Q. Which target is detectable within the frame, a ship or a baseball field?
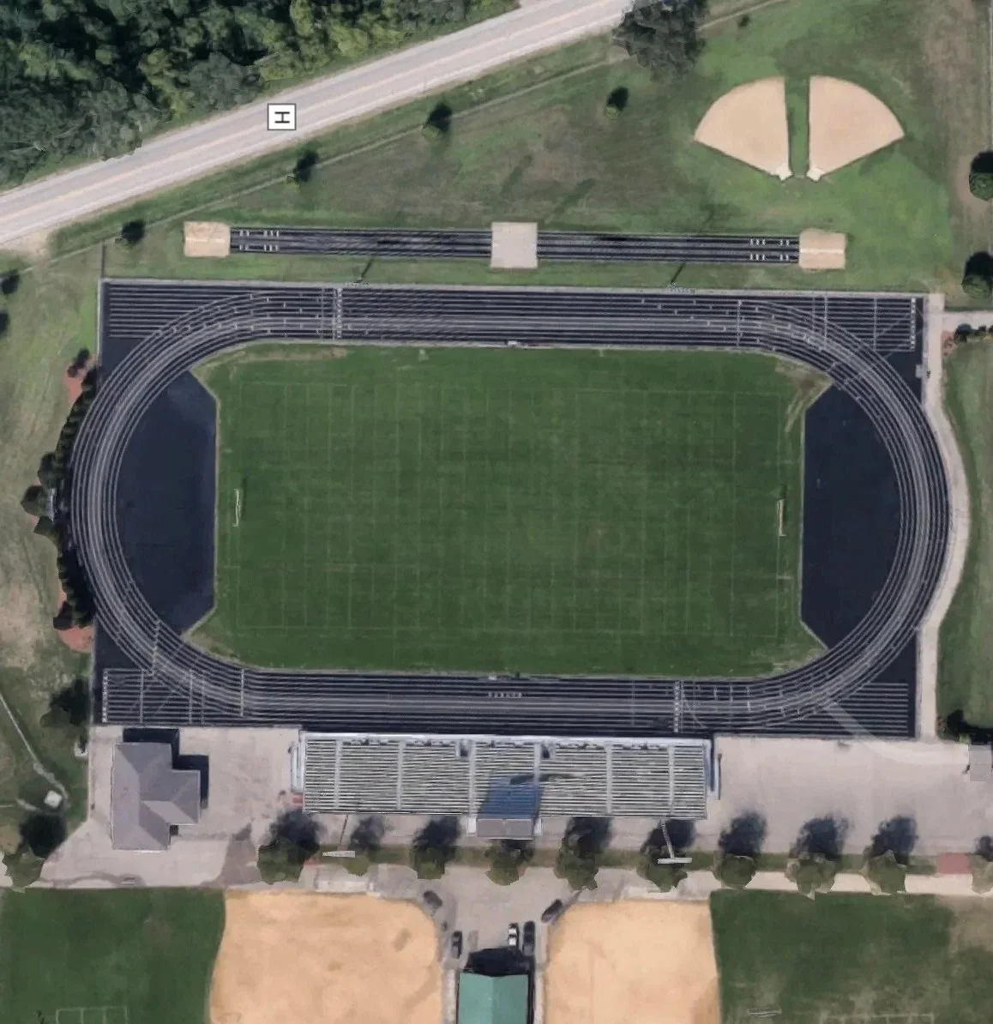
baseball field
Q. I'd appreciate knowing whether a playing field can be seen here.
Yes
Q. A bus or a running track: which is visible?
running track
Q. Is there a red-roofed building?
No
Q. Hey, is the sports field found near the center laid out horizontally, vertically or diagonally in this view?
horizontally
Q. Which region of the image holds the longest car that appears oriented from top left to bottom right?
bottom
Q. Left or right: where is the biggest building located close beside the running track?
left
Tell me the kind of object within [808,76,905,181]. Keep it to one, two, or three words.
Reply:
baseball field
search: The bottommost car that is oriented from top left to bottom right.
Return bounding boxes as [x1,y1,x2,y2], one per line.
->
[422,888,444,910]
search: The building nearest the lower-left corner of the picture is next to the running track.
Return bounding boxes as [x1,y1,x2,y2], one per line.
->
[112,740,200,850]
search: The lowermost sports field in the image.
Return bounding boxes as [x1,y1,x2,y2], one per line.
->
[184,344,831,678]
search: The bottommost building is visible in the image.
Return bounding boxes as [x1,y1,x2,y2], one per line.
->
[459,967,529,1024]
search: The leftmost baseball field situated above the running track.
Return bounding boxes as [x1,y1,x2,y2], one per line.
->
[694,77,791,181]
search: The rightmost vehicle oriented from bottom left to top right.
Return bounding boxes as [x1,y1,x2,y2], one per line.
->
[542,898,564,921]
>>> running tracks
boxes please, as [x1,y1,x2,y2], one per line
[61,285,952,737]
